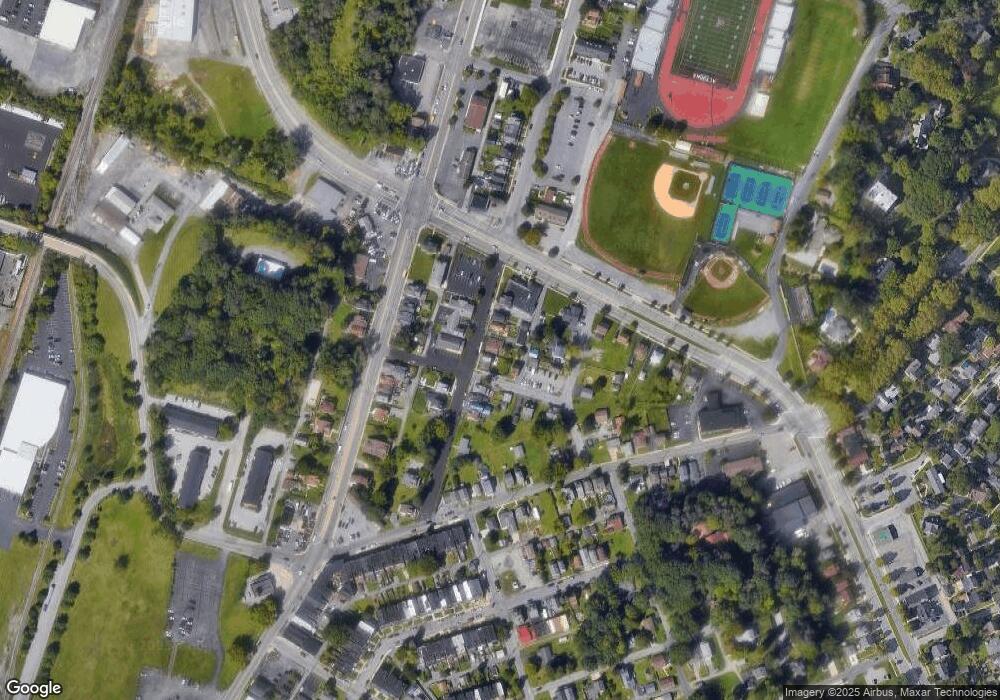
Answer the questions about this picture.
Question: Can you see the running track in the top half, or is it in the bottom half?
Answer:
top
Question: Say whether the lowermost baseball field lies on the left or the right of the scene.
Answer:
right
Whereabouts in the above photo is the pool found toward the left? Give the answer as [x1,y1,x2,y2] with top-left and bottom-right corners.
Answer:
[256,257,285,279]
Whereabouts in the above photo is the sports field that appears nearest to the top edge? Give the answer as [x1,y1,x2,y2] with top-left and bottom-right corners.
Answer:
[673,0,760,90]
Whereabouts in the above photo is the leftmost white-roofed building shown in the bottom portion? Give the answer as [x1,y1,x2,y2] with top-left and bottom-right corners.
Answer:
[0,372,66,494]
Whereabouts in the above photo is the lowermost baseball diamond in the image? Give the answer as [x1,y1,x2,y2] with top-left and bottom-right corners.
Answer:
[685,252,771,327]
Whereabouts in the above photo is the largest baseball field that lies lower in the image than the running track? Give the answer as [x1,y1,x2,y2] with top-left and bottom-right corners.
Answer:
[582,129,728,279]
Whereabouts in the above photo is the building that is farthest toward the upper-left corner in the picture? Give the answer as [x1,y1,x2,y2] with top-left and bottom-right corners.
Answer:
[39,0,95,49]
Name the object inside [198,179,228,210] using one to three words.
shed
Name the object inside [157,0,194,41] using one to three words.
building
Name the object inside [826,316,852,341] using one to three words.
house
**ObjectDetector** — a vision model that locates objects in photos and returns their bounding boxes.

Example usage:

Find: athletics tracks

[660,0,771,129]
